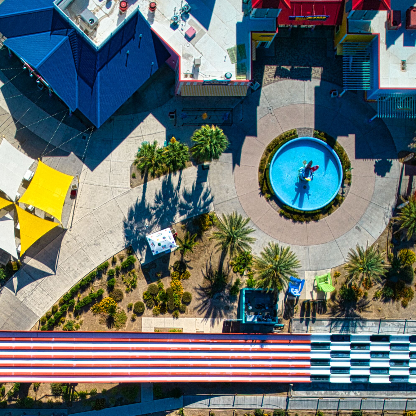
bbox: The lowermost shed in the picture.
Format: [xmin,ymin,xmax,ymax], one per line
[226,288,278,325]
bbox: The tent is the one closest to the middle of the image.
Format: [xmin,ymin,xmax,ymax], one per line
[144,227,177,257]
